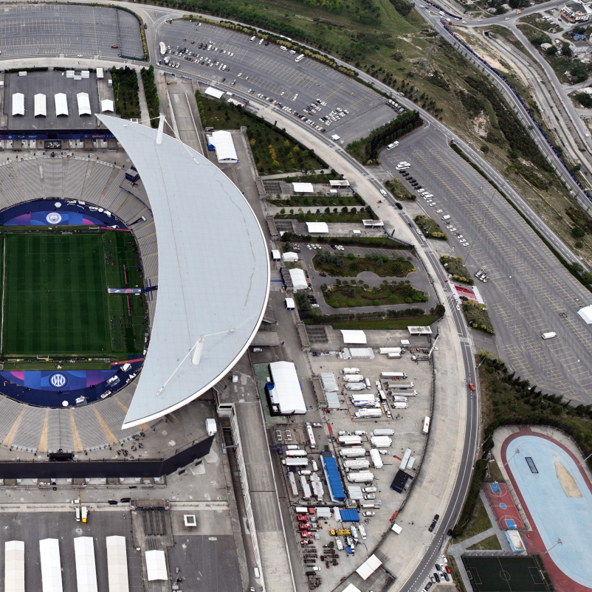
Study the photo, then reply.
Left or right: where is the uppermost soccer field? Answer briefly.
left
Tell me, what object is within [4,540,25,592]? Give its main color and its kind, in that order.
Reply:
white tent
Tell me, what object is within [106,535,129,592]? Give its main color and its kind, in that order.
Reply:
white tent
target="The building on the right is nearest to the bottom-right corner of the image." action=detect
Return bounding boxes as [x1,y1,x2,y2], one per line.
[502,529,525,554]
